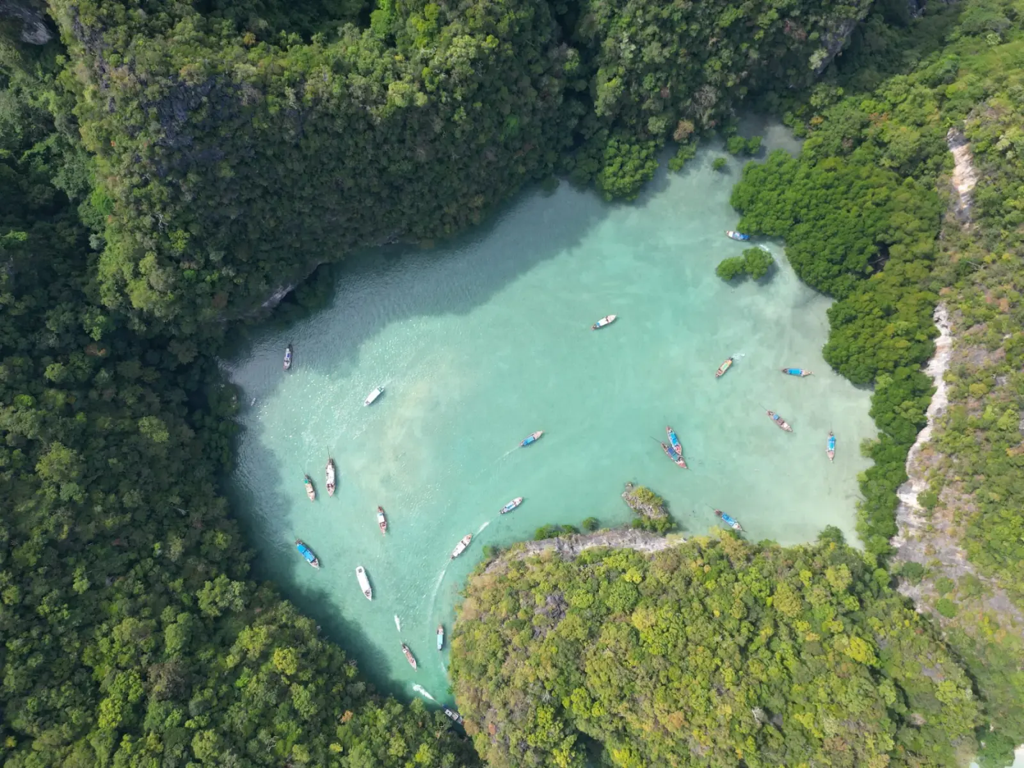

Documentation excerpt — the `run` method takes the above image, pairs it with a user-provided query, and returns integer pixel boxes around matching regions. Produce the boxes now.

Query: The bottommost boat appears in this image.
[441,703,463,726]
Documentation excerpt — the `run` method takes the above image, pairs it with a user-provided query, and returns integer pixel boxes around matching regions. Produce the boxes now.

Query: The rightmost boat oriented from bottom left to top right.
[717,358,733,378]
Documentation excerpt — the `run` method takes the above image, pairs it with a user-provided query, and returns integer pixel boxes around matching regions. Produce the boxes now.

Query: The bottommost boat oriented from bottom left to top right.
[450,534,472,560]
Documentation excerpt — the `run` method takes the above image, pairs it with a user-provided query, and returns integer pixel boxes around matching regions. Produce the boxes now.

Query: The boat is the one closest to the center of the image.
[515,431,544,449]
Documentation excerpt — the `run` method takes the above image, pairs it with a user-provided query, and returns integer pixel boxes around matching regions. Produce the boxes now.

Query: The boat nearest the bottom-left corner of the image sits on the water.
[294,536,319,570]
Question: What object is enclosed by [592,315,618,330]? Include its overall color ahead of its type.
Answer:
white boat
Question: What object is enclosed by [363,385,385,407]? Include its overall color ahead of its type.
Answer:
white boat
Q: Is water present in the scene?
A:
Yes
